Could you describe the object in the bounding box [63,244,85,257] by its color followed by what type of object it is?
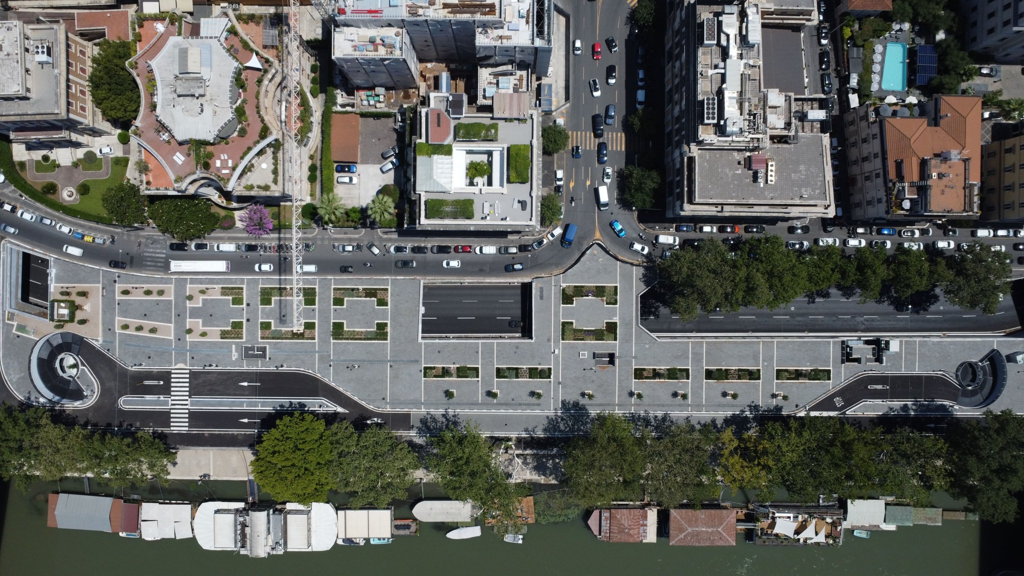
white vehicle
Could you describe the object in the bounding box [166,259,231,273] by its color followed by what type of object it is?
white vehicle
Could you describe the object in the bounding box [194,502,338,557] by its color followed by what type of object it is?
white boat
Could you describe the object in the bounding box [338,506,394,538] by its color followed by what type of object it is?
white boat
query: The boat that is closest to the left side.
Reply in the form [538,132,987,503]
[47,493,123,532]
